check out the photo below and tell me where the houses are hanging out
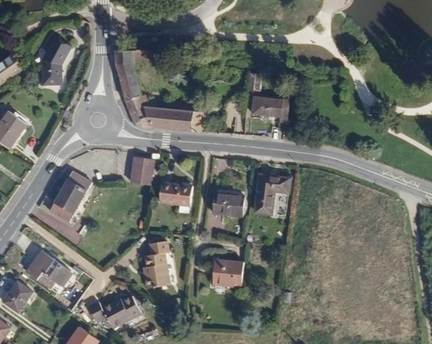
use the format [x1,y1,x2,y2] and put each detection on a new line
[212,258,246,288]
[140,240,172,288]
[0,110,29,148]
[212,182,246,218]
[86,291,145,331]
[0,54,24,87]
[66,325,100,344]
[28,248,69,290]
[158,180,194,214]
[2,280,35,314]
[254,170,294,216]
[0,316,15,340]
[42,38,72,86]
[254,95,290,126]
[140,106,195,134]
[32,168,94,244]
[130,155,156,186]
